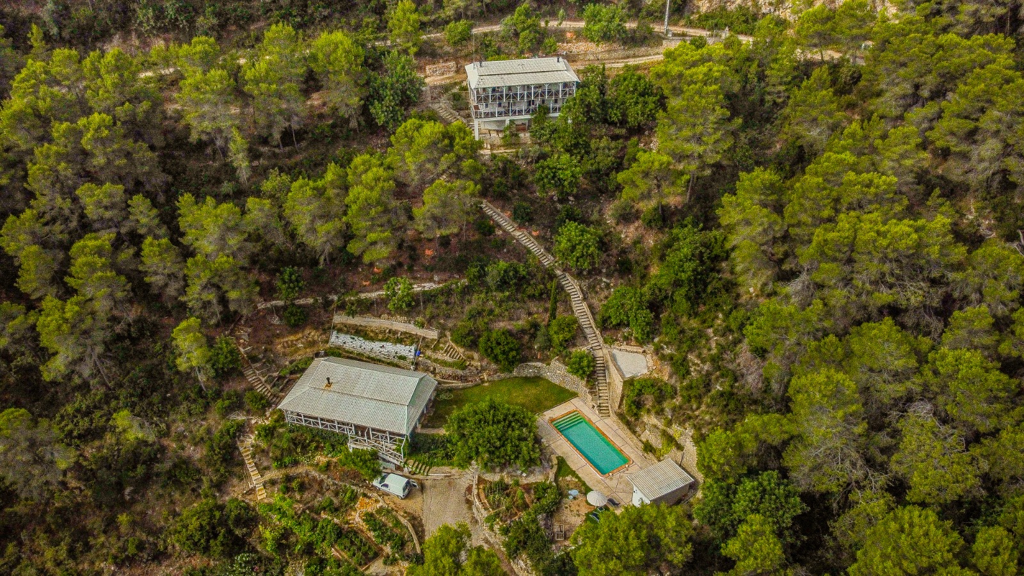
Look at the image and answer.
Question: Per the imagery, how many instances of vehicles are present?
one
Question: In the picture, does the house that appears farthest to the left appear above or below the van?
above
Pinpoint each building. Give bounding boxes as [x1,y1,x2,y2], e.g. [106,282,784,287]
[468,50,580,136]
[627,459,695,513]
[278,357,434,471]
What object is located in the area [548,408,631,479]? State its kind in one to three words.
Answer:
swimming pool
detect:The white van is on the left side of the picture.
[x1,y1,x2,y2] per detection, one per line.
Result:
[371,470,419,499]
